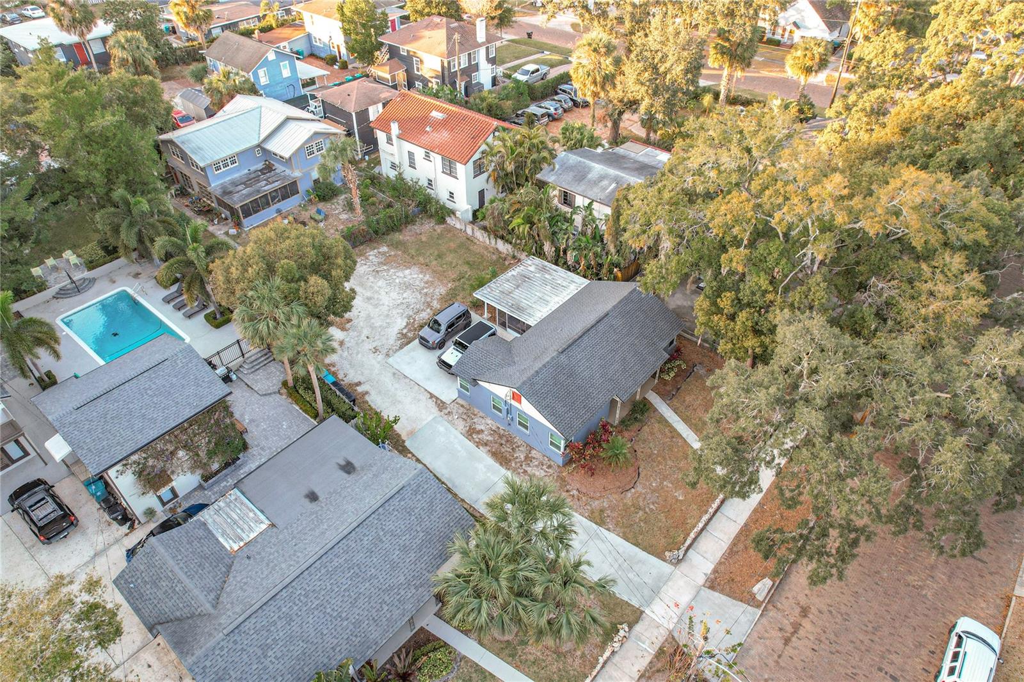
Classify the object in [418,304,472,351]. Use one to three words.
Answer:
car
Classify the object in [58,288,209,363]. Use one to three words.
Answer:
swimming pool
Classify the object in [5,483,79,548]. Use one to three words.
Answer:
car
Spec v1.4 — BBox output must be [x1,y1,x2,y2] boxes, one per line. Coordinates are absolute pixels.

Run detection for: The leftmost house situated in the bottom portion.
[0,400,47,475]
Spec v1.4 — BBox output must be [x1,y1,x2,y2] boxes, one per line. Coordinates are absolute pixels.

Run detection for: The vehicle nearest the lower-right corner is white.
[928,613,1005,682]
